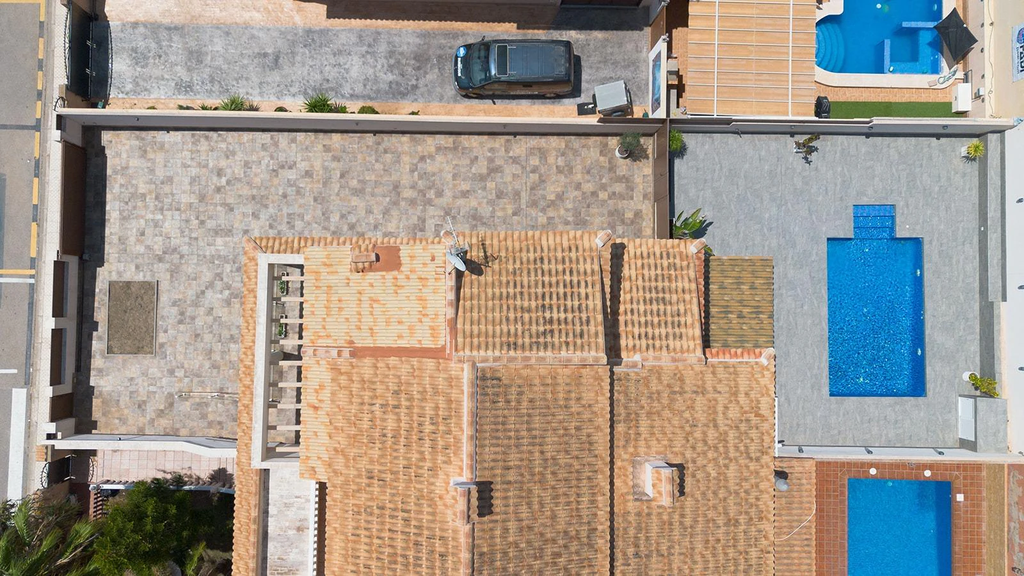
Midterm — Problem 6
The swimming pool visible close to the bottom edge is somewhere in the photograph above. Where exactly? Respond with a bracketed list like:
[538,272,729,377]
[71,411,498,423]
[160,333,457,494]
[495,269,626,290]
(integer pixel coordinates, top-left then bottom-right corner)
[848,479,951,576]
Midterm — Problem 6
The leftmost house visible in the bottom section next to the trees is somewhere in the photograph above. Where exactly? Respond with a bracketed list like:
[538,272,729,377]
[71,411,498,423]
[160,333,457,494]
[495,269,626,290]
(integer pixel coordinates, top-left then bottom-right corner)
[231,228,779,576]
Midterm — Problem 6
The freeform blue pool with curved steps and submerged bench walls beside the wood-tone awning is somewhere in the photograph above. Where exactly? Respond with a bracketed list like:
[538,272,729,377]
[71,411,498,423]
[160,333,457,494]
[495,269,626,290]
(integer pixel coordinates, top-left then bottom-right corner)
[815,0,943,73]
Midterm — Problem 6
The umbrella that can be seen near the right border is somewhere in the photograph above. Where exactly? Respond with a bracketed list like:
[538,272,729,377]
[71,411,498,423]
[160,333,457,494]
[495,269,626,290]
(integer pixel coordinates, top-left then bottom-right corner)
[933,8,977,70]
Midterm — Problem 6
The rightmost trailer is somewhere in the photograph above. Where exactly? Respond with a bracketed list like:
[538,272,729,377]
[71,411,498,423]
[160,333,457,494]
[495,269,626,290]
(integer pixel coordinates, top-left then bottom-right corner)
[585,81,630,115]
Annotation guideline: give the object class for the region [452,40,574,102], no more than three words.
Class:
van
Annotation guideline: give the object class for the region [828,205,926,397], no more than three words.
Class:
swimming pool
